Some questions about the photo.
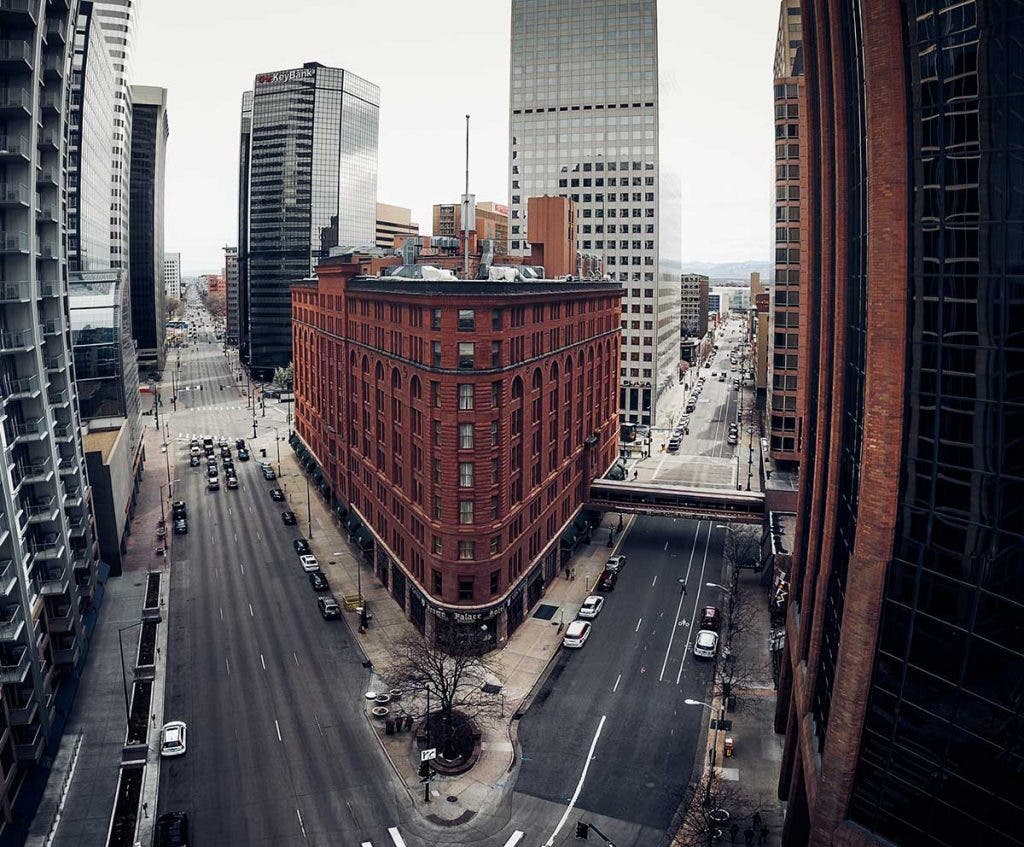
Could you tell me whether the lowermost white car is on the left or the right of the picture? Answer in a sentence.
You can find the lowermost white car on the left side of the picture.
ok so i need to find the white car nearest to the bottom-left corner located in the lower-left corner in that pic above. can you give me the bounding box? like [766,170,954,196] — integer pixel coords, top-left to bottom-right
[161,724,186,757]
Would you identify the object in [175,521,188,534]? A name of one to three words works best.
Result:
vehicle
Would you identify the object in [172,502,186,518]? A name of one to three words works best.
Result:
vehicle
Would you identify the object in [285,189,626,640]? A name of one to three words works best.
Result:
building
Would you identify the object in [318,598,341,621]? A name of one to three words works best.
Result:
car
